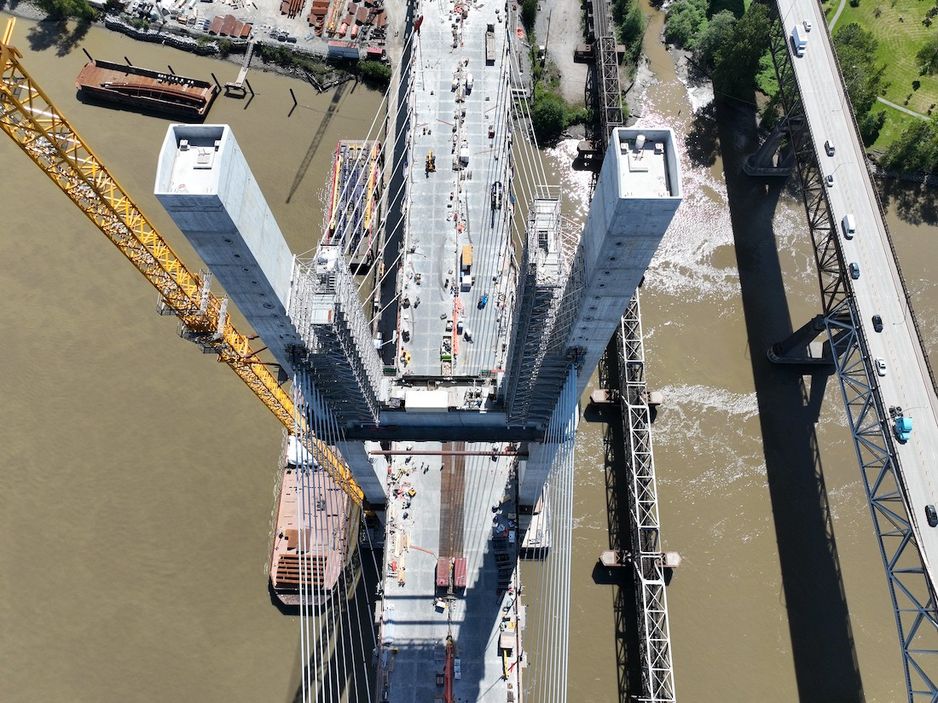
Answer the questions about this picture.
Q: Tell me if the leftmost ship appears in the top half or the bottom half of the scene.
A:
top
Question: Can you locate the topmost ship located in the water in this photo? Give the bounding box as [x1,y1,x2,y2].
[77,57,218,119]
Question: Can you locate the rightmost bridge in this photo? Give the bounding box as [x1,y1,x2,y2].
[716,0,938,703]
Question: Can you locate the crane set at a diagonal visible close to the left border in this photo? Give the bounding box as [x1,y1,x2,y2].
[0,12,358,506]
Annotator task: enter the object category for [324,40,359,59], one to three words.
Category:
shed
